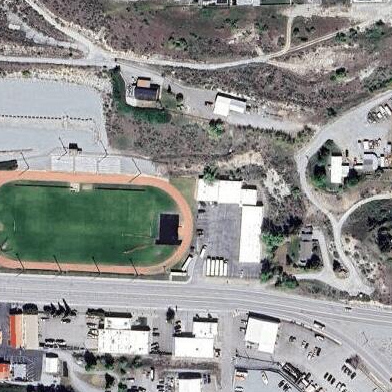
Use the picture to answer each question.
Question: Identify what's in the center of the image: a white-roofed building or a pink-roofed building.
white-roofed building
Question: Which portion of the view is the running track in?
left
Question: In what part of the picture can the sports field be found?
left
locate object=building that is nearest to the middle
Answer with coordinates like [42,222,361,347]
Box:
[196,178,221,202]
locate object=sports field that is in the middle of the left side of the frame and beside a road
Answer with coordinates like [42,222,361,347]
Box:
[0,181,184,265]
